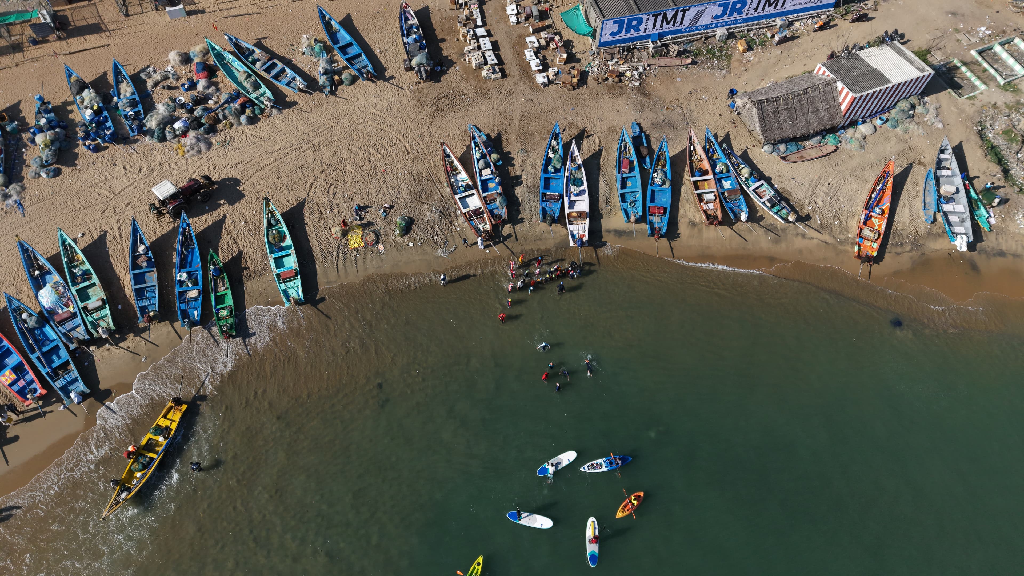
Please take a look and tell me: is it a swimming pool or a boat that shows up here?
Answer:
boat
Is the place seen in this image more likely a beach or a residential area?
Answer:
beach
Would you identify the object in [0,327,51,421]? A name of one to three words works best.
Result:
boat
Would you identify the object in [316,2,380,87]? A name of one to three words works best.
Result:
boat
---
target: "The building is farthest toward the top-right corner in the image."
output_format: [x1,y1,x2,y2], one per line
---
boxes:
[820,36,938,120]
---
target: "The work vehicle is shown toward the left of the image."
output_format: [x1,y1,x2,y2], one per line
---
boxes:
[150,184,212,224]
